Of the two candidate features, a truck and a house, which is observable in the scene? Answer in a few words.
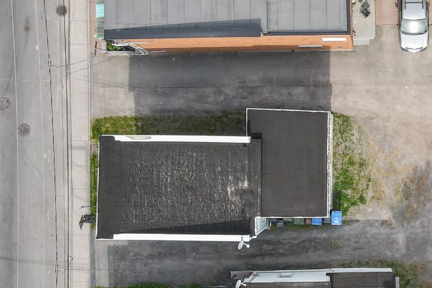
house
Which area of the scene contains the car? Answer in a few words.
top right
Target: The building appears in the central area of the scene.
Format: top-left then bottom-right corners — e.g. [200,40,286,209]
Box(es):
[97,105,334,239]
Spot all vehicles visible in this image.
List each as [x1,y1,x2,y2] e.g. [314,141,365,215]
[396,0,431,51]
